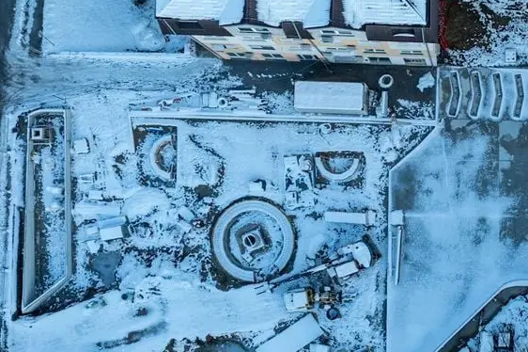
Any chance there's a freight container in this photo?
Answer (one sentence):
Yes, I can see a freight container in this picture.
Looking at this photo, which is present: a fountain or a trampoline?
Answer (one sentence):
I can see a fountain in this picture.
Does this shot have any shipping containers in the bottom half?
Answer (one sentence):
No, the scene shows no shipping container in the bottom half.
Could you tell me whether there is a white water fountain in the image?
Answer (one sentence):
No, there's no white water fountain here.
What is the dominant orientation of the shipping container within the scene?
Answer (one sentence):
In this picture, the shipping container is oriented from left to right.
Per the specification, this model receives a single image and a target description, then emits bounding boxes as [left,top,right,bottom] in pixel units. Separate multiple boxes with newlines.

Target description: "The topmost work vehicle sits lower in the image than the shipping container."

[266,244,378,294]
